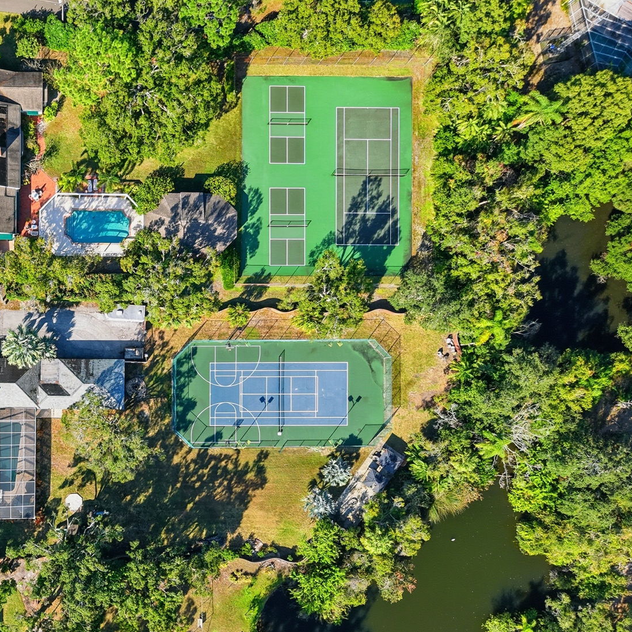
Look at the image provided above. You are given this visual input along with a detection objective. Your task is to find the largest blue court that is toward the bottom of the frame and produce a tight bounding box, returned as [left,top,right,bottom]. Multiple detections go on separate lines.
[210,363,348,426]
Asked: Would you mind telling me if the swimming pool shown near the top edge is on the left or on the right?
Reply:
right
